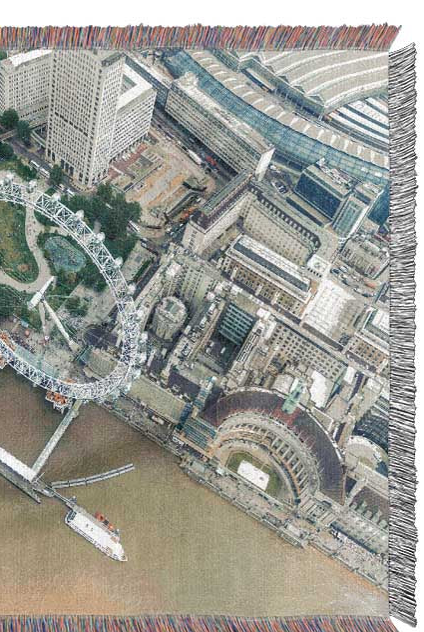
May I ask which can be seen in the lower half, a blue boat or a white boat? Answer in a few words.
white boat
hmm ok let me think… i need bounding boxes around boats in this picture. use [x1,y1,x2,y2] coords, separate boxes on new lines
[94,510,115,531]
[64,505,127,561]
